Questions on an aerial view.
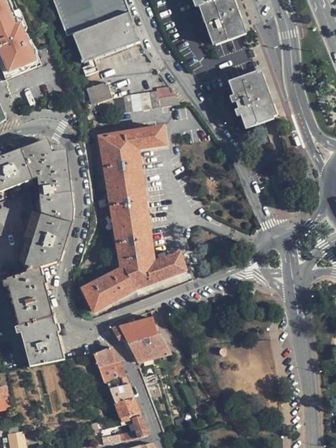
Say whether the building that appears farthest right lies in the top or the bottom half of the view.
top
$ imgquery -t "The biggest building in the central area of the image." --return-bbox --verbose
[82,124,188,312]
